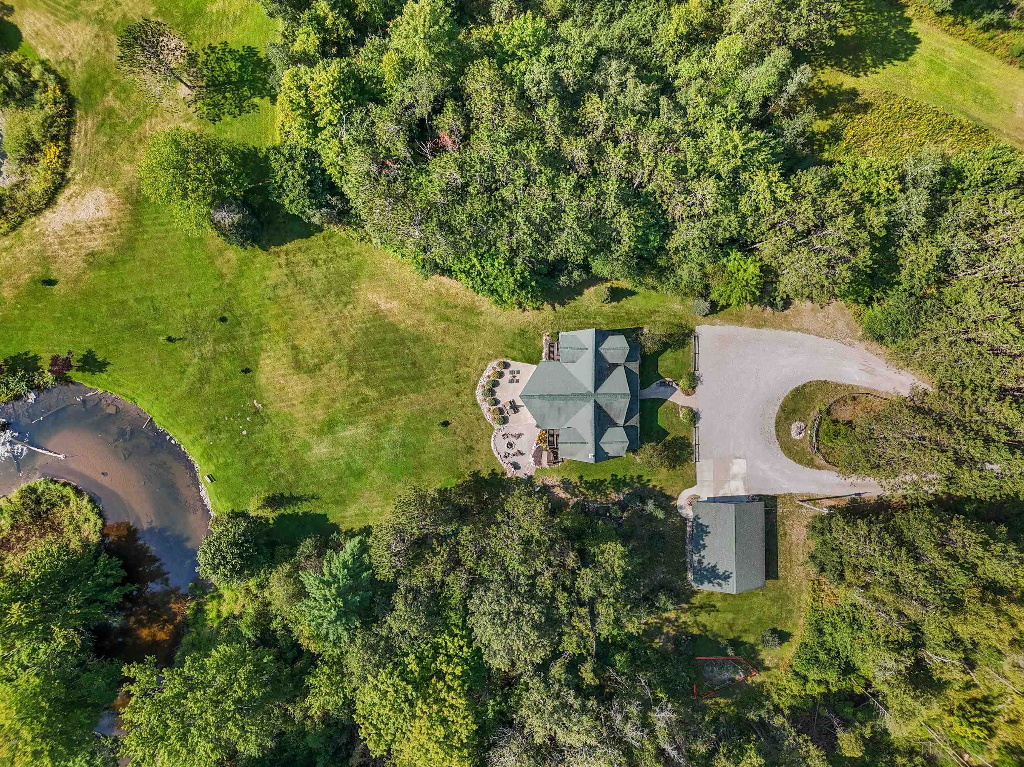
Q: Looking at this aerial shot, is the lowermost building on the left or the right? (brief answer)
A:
right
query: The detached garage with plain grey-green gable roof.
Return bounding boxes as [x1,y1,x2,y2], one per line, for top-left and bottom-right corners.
[690,502,766,594]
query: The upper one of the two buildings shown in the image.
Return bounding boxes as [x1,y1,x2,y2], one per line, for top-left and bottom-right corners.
[520,328,640,463]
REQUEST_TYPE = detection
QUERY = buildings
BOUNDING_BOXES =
[520,328,640,463]
[690,502,766,594]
